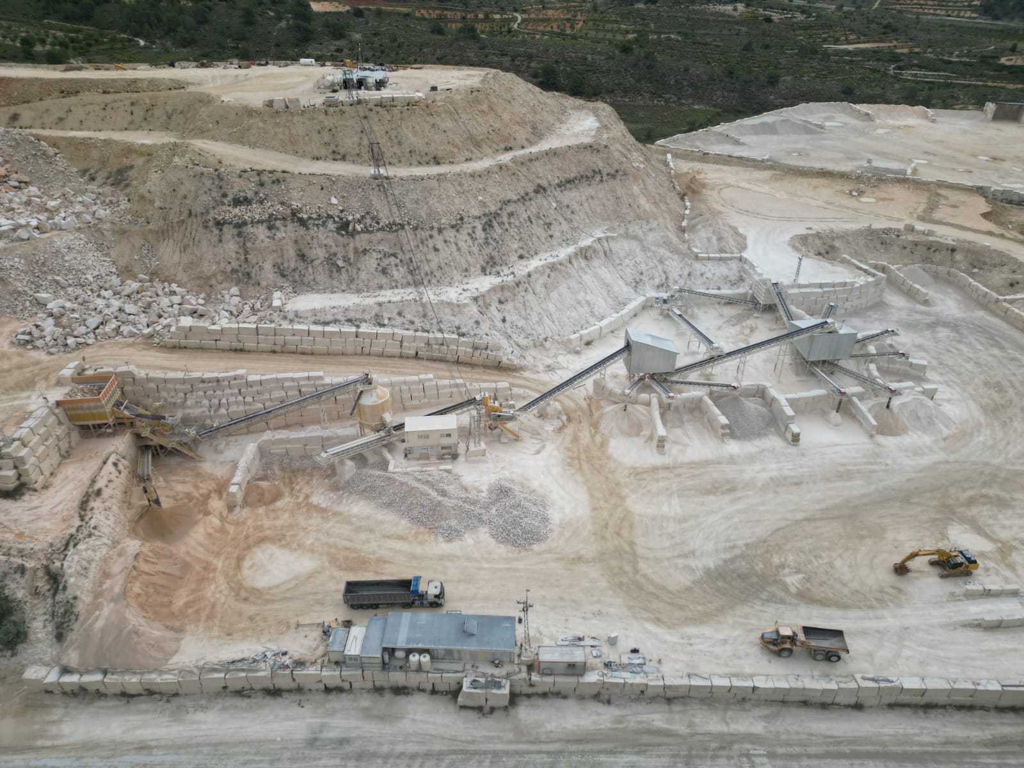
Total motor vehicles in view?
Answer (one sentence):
The picture shows 3 motor vehicles.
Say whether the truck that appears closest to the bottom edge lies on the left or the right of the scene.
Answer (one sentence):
It is on the right.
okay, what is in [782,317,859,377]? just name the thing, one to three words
house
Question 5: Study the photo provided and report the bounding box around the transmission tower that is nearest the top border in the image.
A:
[341,60,353,98]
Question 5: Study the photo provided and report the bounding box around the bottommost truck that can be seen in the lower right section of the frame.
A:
[761,619,851,660]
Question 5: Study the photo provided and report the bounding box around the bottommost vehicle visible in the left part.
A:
[343,572,447,606]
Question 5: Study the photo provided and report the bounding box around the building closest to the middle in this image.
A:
[401,416,458,461]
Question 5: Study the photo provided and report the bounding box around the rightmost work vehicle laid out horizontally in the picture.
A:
[896,545,989,582]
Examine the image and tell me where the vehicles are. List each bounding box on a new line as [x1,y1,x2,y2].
[343,572,447,606]
[896,545,989,582]
[761,619,851,660]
